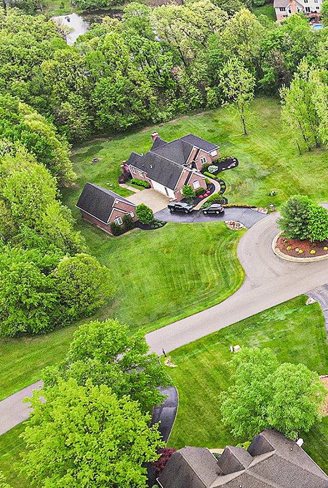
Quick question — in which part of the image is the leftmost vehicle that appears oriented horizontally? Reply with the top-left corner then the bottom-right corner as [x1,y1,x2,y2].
[163,201,194,214]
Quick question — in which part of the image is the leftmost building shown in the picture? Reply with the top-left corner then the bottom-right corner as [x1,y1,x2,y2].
[75,184,139,234]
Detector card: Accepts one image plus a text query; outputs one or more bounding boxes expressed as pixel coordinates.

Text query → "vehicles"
[198,203,223,215]
[163,201,194,214]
